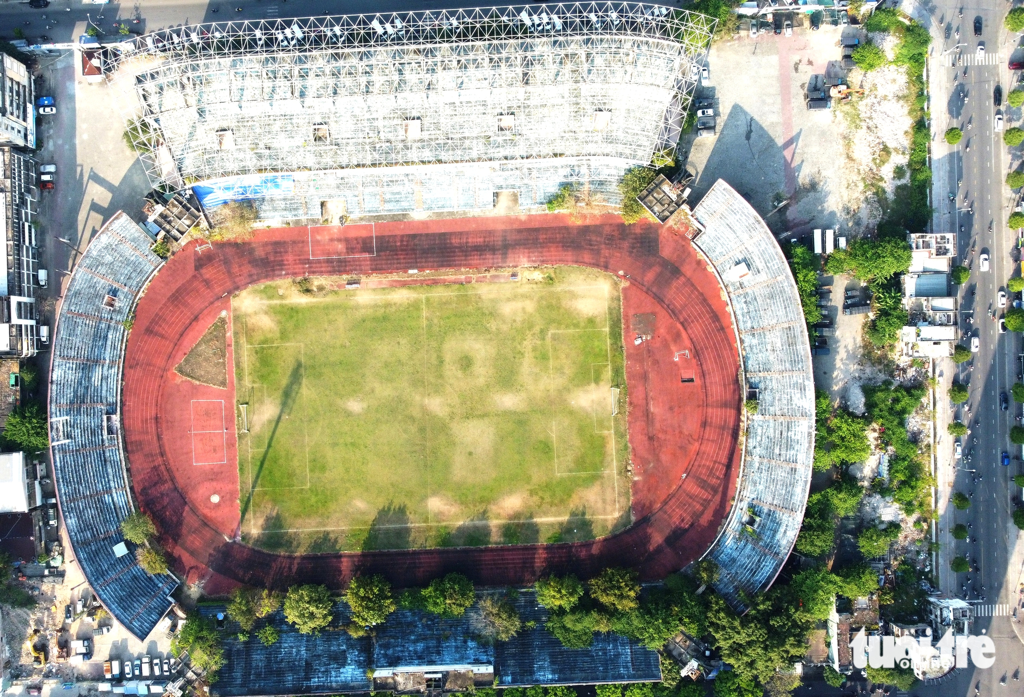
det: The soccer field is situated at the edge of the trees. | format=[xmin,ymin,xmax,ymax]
[232,264,634,555]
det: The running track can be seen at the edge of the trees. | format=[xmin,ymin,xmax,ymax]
[124,211,742,597]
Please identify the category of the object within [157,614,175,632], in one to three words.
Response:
vehicle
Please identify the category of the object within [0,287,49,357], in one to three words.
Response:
building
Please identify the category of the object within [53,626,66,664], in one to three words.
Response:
vehicle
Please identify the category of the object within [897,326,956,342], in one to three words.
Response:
house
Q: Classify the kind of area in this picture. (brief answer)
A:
sports ground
